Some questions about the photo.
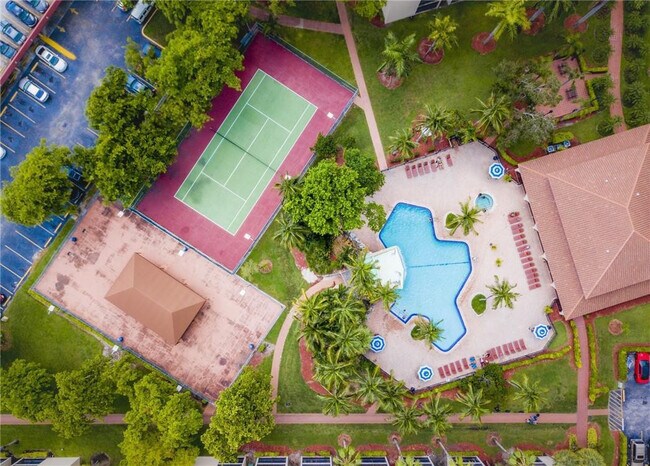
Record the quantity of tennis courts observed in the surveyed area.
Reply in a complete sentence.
The count comes to 1 tennis court.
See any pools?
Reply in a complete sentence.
Yes, this view includes a pool.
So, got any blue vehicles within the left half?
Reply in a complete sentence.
Yes, within the left half there is a blue vehicle.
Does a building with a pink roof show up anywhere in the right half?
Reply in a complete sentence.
Yes, the scene does show a building with a pink roof in the right half.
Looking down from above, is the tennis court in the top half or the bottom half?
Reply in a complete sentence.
The top half of the photo is where the tennis court is.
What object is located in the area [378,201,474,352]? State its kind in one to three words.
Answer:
swimming pool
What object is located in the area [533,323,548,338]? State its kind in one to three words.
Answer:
umbrella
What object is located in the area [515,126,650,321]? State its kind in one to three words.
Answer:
building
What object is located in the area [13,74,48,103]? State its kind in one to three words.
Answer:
car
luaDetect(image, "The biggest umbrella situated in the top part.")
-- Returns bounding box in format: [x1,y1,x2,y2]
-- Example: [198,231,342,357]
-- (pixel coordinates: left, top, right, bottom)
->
[488,163,504,178]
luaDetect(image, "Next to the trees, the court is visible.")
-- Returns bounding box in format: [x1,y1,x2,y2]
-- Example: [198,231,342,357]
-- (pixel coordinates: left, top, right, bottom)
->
[133,31,355,272]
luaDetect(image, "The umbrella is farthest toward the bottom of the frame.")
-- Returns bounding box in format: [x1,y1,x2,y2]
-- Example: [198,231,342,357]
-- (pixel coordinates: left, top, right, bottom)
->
[417,364,433,381]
